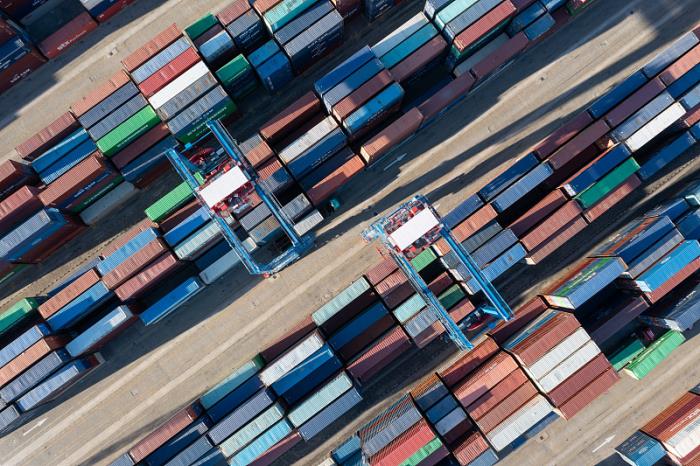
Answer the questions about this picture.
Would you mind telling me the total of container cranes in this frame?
2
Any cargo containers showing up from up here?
Yes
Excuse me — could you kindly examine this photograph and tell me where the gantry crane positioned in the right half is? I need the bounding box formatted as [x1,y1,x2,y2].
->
[351,189,522,357]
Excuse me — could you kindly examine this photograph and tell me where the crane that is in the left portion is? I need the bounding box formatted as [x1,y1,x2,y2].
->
[159,116,329,282]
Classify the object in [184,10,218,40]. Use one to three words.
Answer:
shipping container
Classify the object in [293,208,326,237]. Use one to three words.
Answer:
shipping container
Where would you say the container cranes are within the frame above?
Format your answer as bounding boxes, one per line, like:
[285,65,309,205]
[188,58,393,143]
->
[351,189,522,357]
[159,116,329,282]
